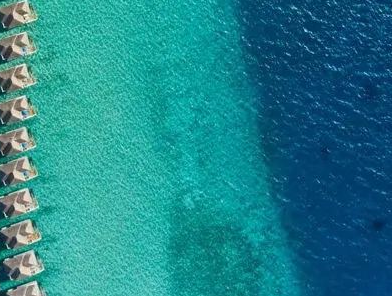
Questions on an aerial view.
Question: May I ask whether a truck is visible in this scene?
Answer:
No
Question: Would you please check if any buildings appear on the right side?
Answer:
No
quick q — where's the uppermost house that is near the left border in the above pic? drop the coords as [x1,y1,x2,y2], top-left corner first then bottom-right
[0,0,38,29]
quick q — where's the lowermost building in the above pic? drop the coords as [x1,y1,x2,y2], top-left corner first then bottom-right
[7,278,47,296]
